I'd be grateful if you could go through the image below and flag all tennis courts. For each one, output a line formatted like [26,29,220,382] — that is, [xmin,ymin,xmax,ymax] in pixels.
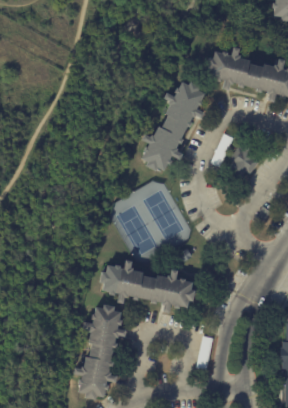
[144,192,182,239]
[118,206,154,255]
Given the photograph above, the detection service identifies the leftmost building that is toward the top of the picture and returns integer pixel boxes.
[141,82,204,168]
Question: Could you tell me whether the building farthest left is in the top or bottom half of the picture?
bottom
